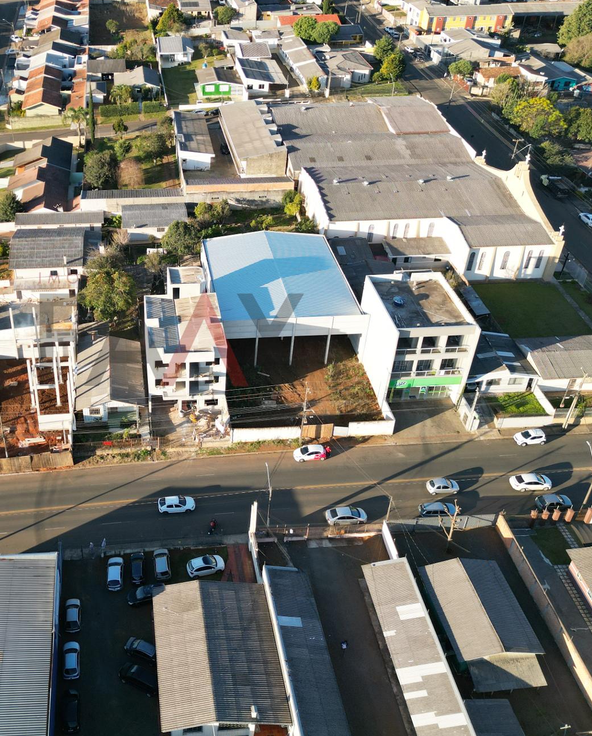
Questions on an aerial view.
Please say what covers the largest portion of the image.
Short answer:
buildings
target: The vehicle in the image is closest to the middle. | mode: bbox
[292,444,330,463]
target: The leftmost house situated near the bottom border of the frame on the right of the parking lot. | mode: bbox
[153,576,292,736]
